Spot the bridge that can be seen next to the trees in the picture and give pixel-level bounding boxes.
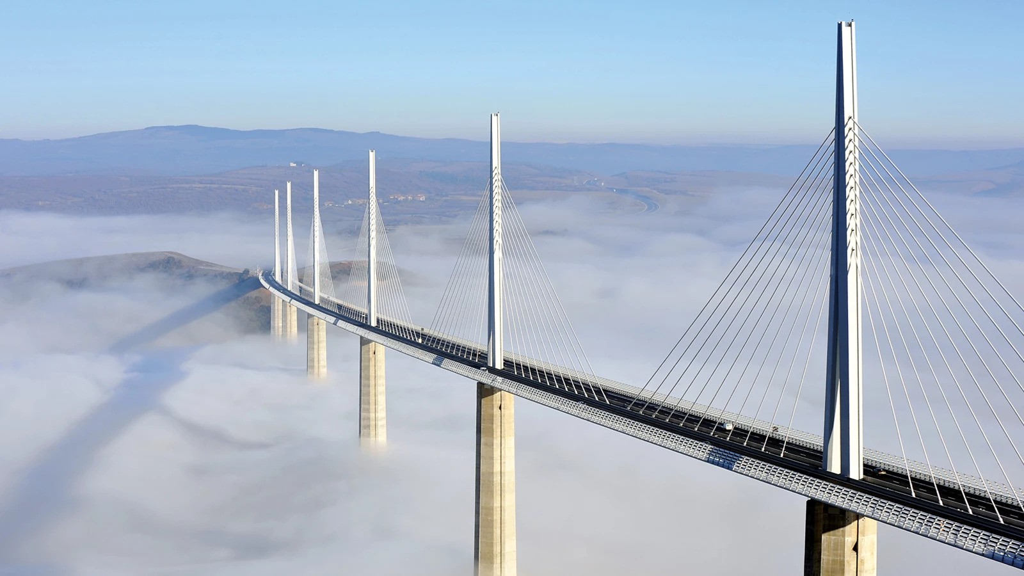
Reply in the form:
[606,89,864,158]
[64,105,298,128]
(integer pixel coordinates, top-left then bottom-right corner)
[259,17,1024,576]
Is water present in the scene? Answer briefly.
Yes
